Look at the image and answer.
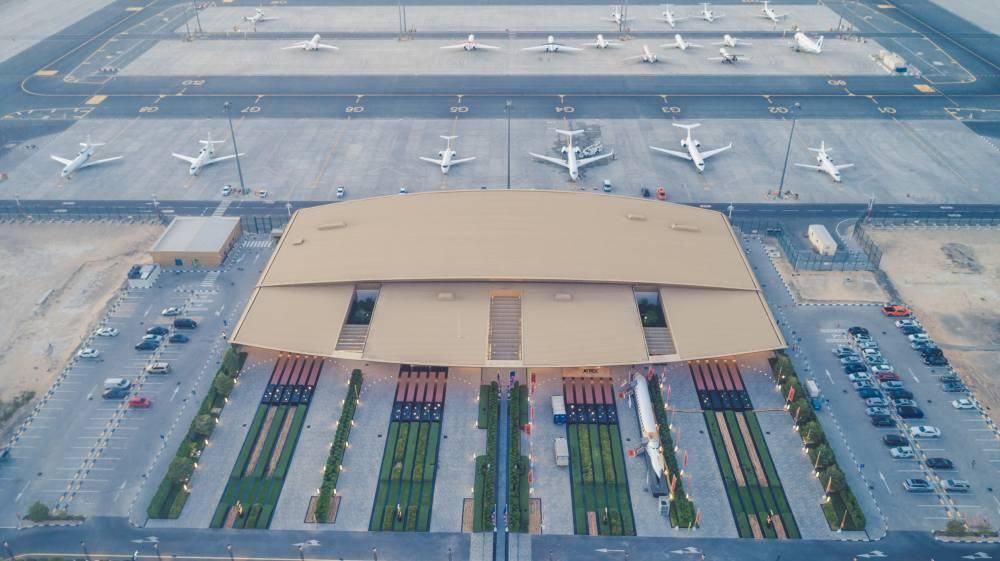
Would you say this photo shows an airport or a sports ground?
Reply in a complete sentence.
The area seen from above is an airport.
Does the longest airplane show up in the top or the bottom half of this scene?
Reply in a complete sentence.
The bottom half of the photo is where the longest airplane is.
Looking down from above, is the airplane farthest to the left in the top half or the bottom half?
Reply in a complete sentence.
You can find the airplane farthest to the left in the top half.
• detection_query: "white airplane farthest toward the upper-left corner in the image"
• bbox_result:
[48,134,125,179]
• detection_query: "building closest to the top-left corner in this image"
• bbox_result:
[146,216,242,270]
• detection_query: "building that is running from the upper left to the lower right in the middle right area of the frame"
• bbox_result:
[801,218,840,252]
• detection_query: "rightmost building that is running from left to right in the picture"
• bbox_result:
[228,190,787,368]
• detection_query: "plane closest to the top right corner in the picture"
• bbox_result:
[780,32,846,52]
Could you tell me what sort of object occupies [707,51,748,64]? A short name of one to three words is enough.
airplane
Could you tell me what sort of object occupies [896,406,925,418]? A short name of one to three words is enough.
vehicle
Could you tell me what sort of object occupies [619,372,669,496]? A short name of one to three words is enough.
airplane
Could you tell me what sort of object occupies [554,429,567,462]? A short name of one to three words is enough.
vehicle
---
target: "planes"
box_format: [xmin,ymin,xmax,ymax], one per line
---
[690,4,726,25]
[278,36,339,52]
[707,51,748,64]
[439,35,499,51]
[780,32,846,52]
[583,37,623,50]
[171,131,245,176]
[529,130,614,181]
[650,7,687,28]
[601,13,636,27]
[648,123,733,174]
[794,141,854,185]
[522,36,583,52]
[754,9,791,25]
[419,136,476,178]
[619,372,669,496]
[710,36,750,49]
[661,39,701,52]
[48,134,125,179]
